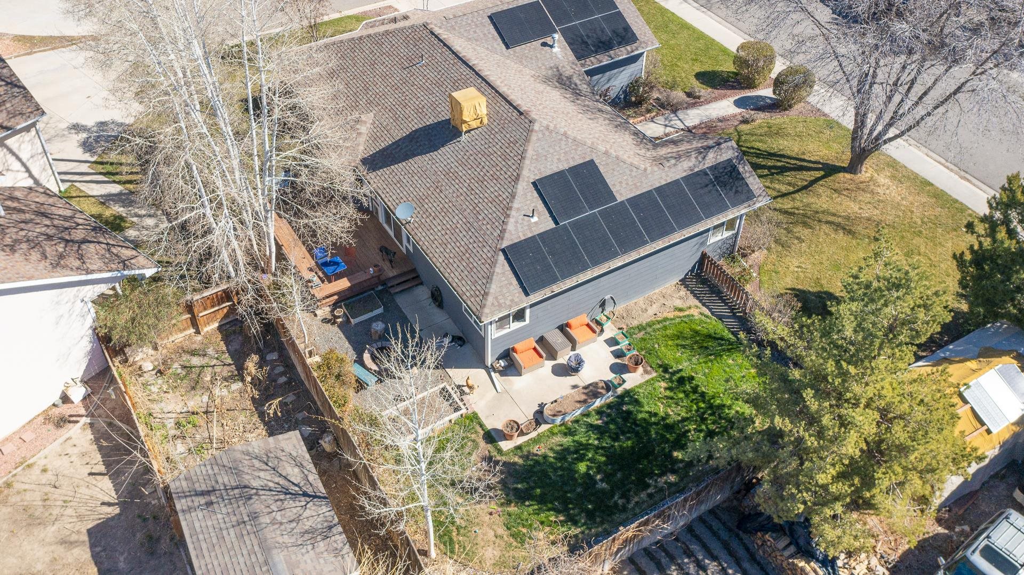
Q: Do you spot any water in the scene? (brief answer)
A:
No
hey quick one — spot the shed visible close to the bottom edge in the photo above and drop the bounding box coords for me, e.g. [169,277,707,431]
[169,429,376,575]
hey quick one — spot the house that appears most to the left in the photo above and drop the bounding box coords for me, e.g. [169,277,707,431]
[0,61,162,440]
